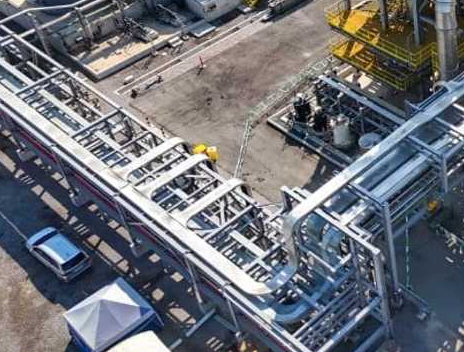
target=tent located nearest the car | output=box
[61,279,166,352]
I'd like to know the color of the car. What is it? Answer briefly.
blue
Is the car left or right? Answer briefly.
left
